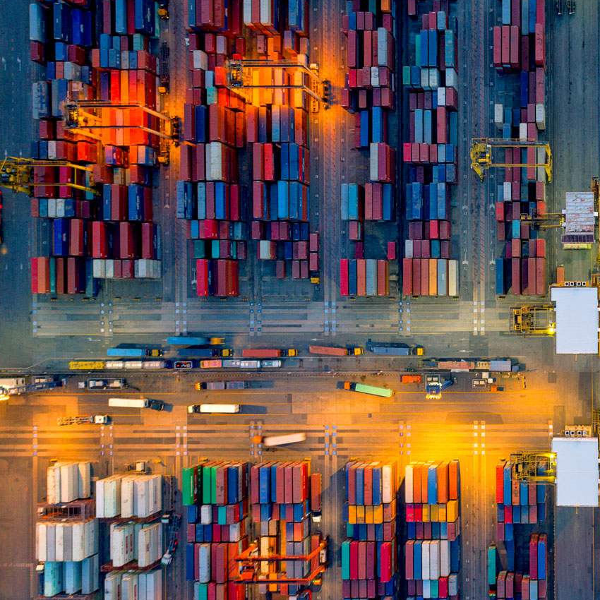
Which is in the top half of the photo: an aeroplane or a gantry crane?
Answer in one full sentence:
What appears in the top half of the photo is a gantry crane.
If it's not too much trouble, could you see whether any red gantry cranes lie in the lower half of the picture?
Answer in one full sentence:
Yes, there is a red gantry crane in the lower half of the picture.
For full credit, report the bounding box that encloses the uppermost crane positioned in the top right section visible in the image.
[469,138,554,184]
